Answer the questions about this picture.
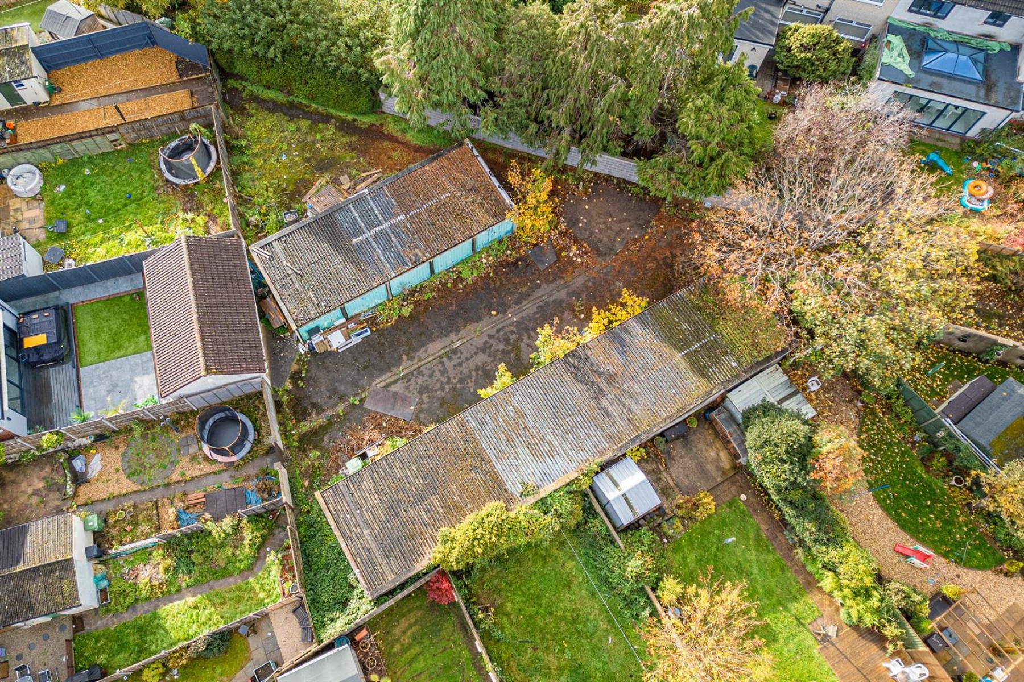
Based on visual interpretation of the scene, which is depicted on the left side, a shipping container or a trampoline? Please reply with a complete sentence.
You can see a trampoline on the left side.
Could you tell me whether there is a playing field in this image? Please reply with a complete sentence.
No, no playing field is visible in the scene.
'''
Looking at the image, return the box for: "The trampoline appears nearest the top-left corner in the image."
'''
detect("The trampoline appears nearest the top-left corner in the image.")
[157,127,221,190]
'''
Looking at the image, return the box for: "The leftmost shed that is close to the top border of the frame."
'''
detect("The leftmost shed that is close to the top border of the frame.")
[0,16,53,113]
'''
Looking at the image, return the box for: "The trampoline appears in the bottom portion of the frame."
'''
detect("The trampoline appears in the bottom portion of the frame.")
[187,402,261,470]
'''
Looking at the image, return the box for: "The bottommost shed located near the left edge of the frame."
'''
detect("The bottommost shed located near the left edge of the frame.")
[0,511,102,636]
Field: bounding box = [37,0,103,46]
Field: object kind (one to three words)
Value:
shed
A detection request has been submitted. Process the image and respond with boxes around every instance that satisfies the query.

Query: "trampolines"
[157,127,221,190]
[187,402,261,470]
